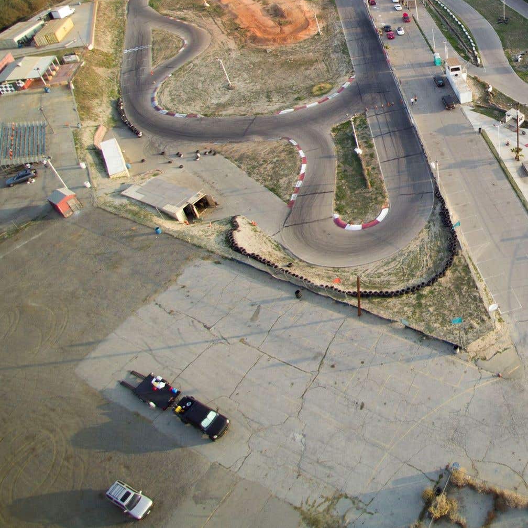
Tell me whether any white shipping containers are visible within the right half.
No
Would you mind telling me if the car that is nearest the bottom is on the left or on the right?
left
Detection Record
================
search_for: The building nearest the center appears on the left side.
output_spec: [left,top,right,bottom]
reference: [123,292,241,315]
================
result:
[120,177,223,225]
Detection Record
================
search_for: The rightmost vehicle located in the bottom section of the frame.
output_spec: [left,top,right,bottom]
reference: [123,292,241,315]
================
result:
[171,394,230,441]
